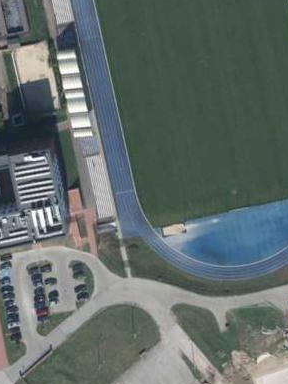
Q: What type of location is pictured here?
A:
sports ground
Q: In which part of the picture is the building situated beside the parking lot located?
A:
left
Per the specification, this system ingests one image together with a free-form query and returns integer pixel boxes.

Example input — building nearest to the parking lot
[0,149,71,255]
